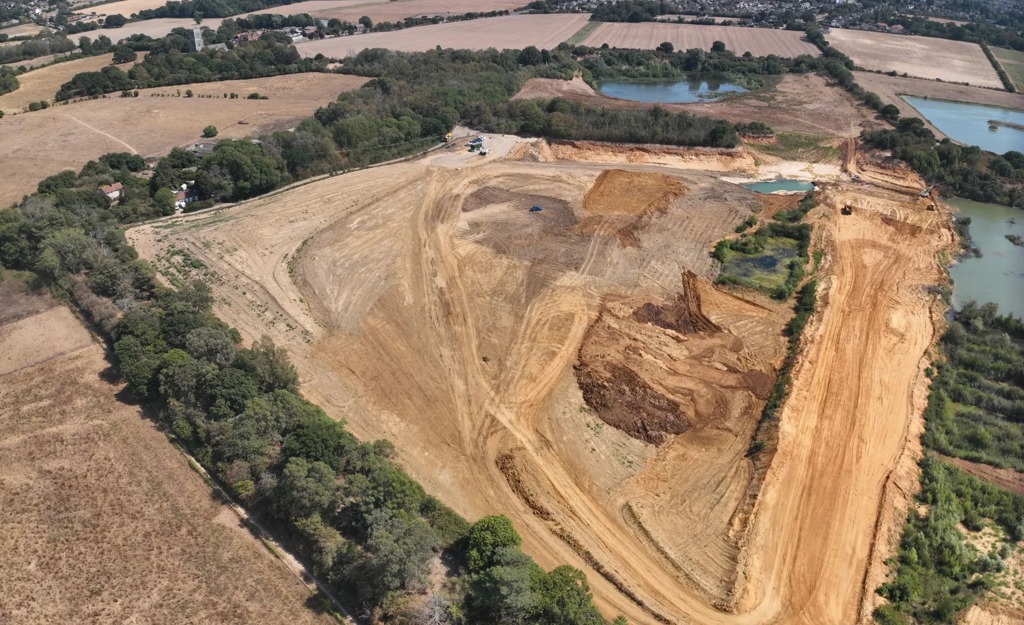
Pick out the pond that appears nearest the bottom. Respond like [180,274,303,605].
[723,241,800,290]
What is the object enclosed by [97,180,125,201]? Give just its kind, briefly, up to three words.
house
